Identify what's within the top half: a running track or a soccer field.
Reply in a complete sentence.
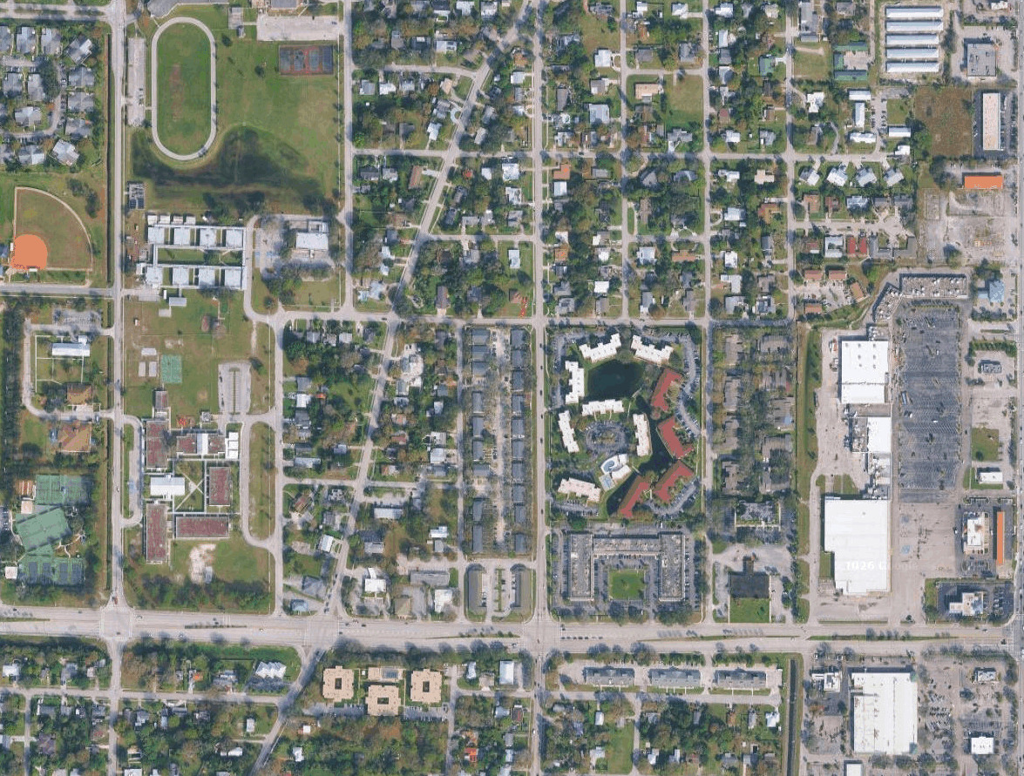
There is a running track within the top half.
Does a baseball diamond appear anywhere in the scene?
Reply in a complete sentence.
Yes, a baseball diamond appears in the view.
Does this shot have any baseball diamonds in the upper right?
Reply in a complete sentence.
No, looking in the upper right, there is no baseball diamond.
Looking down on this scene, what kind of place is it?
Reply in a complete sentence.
The picture captures a residential area.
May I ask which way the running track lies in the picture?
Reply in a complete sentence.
In this picture, the running track is oriented up and down.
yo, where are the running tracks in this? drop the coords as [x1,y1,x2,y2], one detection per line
[152,17,216,160]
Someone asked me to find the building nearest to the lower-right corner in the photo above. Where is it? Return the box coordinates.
[970,737,994,754]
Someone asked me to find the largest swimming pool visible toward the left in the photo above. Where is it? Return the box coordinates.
[381,668,405,681]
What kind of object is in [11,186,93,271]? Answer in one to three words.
baseball field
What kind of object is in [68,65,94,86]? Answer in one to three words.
house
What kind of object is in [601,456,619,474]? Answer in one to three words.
swimming pool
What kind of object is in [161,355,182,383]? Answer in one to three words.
basketball court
